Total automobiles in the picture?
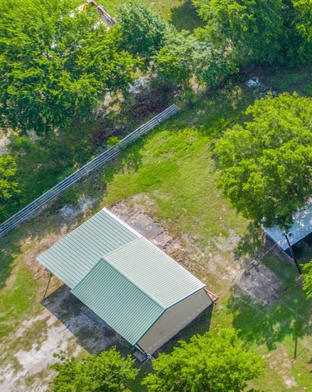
0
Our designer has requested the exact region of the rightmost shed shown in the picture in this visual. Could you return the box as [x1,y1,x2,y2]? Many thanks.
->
[260,197,312,261]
